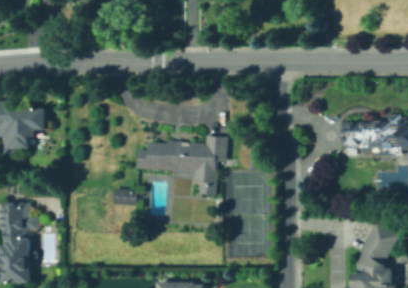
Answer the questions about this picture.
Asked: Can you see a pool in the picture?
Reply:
Yes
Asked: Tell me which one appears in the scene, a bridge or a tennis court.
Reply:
tennis court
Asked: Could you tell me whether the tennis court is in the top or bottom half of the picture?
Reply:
bottom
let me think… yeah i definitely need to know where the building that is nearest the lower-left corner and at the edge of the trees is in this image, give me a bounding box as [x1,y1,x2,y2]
[0,203,38,284]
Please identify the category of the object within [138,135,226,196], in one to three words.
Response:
house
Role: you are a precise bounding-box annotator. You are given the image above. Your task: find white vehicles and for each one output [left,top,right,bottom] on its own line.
[219,114,225,128]
[324,116,335,126]
[306,164,314,176]
[352,240,362,248]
